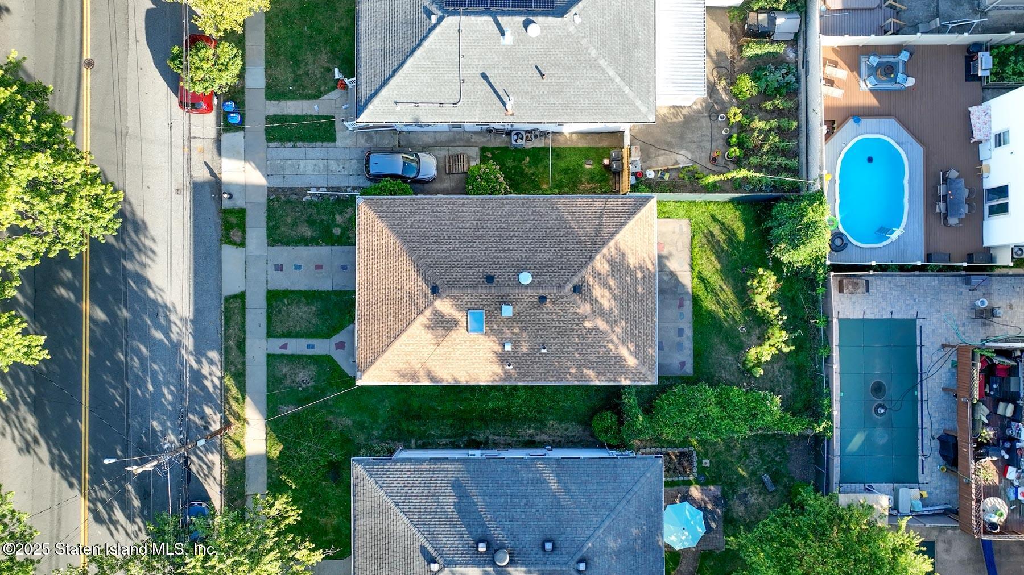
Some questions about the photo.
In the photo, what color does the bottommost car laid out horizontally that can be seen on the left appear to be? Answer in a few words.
blue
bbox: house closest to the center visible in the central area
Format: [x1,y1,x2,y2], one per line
[355,194,659,387]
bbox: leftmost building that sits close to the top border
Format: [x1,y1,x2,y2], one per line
[355,0,657,131]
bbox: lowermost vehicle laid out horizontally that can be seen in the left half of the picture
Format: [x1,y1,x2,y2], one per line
[365,148,437,183]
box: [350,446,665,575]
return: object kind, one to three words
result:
house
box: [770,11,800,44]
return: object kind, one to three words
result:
shed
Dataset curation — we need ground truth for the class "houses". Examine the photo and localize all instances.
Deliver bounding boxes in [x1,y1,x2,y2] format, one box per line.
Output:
[355,194,659,387]
[355,0,657,131]
[983,88,1024,248]
[350,446,665,575]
